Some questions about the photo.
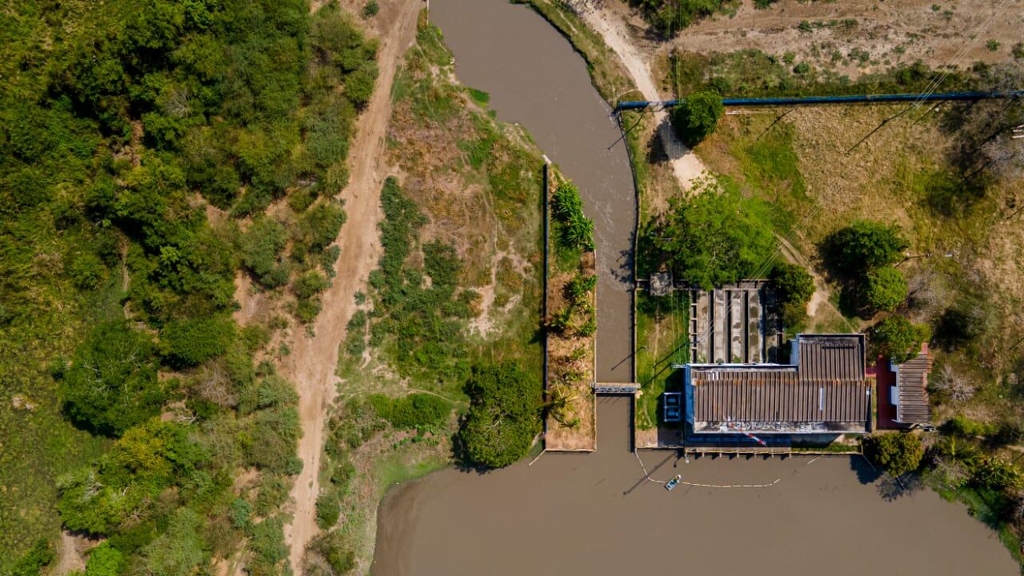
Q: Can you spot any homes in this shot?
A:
Yes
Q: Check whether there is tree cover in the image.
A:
Yes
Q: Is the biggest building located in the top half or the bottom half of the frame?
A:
bottom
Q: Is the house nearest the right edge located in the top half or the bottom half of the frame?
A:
bottom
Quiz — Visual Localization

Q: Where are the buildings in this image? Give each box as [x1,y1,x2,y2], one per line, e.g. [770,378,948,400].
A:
[686,332,871,433]
[648,273,673,295]
[877,341,932,427]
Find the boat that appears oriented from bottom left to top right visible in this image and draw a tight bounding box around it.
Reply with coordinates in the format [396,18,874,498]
[664,475,680,491]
